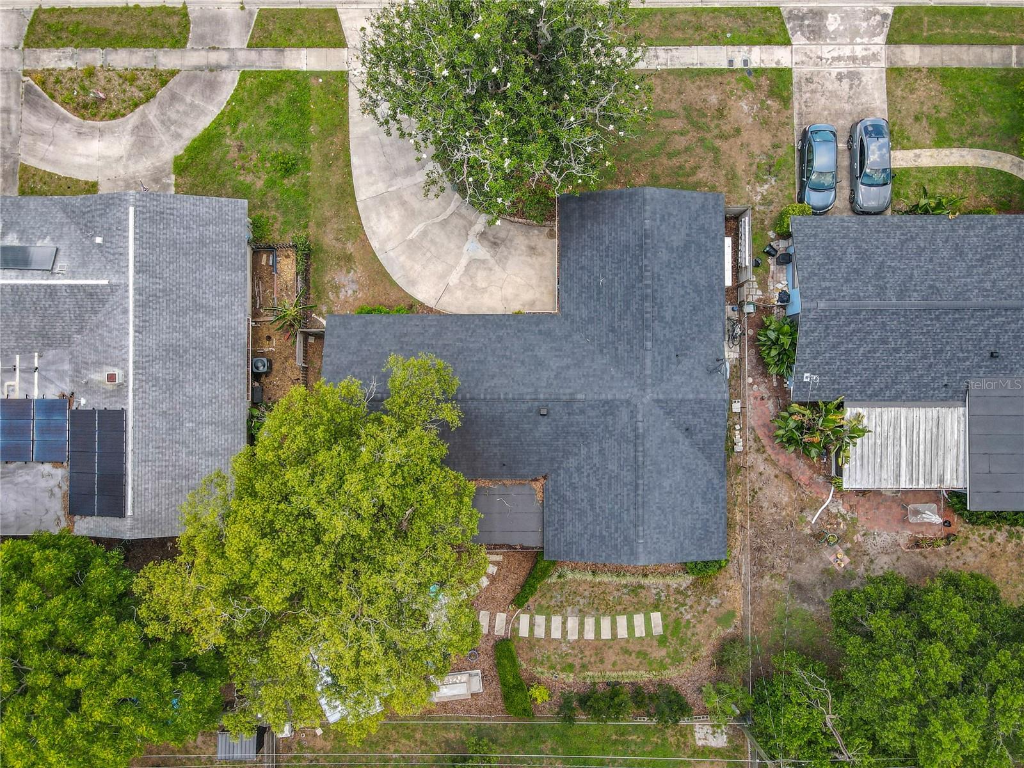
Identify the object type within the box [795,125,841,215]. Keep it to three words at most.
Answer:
car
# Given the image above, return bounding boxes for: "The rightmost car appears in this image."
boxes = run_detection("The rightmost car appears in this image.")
[845,118,896,216]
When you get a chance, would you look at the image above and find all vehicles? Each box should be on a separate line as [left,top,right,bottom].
[845,118,896,216]
[795,125,841,215]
